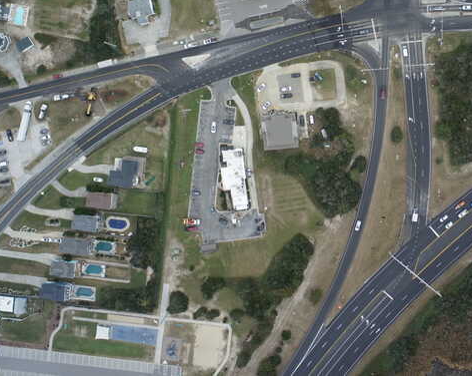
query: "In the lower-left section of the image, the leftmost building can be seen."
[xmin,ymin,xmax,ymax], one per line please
[0,295,29,315]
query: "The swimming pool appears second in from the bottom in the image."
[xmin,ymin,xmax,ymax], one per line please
[81,262,107,278]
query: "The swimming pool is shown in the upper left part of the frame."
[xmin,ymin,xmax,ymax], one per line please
[9,4,28,26]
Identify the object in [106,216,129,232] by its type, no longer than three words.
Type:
swimming pool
